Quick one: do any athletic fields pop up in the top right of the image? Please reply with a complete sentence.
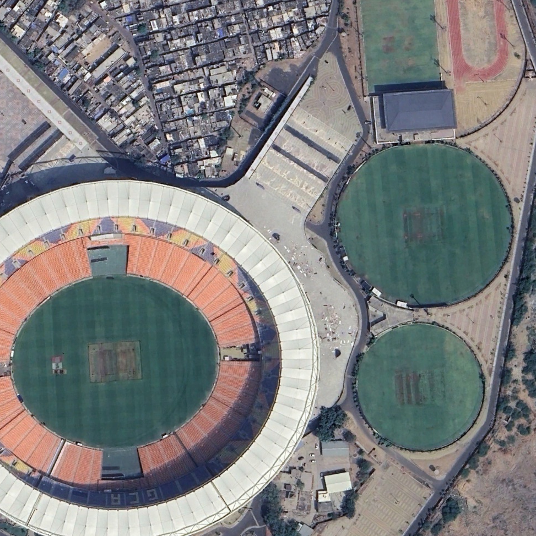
Yes, I can see an athletic field in the top right of the image.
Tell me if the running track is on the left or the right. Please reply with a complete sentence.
The running track sits on the right side.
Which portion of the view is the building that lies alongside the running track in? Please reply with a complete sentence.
The building that lies alongside the running track sits in the top right section of the image.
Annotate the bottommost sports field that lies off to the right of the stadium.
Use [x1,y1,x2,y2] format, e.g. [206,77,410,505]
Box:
[355,321,486,451]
